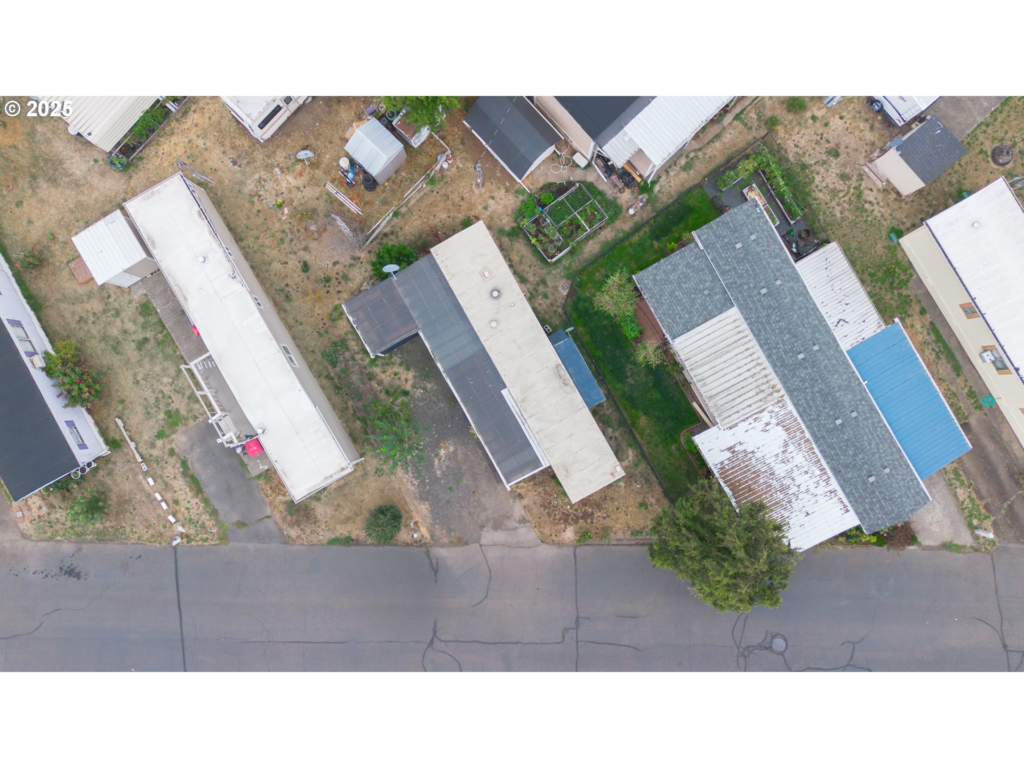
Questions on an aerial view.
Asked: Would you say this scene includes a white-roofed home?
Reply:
Yes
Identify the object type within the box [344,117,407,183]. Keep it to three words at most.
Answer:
shed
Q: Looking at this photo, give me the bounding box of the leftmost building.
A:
[0,256,110,503]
